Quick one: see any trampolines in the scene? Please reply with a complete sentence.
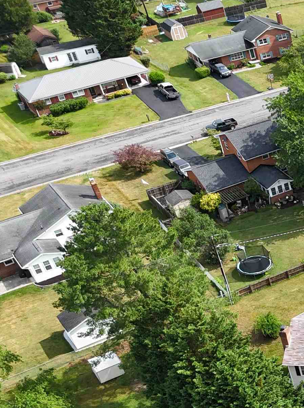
Yes, the frame does contain a trampoline.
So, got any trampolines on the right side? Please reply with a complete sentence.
Yes, a trampoline shows up on the right side.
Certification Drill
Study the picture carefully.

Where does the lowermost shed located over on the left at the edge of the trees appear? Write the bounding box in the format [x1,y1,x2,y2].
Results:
[89,348,126,386]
